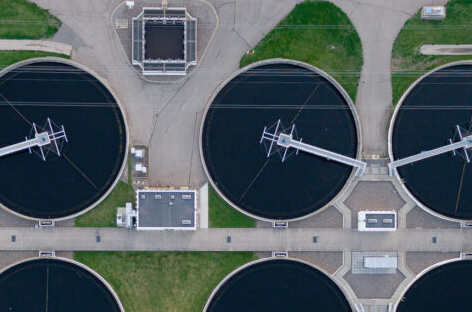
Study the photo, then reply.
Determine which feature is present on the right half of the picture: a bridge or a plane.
bridge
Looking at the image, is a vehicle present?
No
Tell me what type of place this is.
industrial area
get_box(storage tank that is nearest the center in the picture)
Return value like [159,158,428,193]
[200,59,363,221]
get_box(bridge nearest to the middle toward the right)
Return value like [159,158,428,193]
[274,131,363,178]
